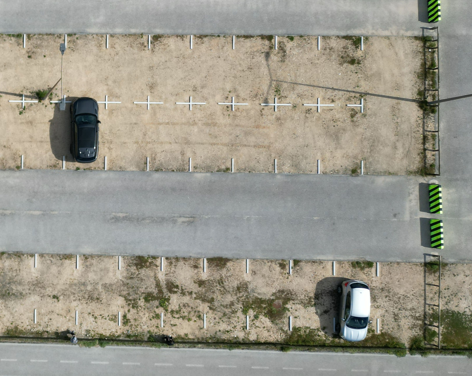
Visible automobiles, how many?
2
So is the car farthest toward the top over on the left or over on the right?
left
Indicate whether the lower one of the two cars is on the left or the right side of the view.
right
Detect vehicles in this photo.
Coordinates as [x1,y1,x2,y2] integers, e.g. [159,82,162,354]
[336,278,374,341]
[69,98,102,164]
